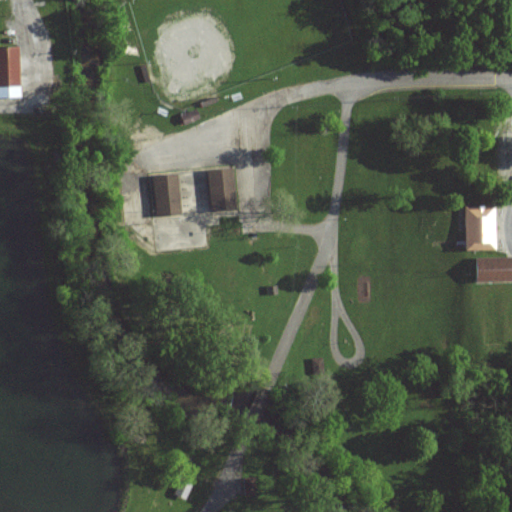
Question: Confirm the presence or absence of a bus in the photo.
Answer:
No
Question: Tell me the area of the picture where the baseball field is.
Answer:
top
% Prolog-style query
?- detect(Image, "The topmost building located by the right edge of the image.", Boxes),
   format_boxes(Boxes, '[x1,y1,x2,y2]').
[465,206,498,252]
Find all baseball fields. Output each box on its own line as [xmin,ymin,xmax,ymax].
[130,0,363,106]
